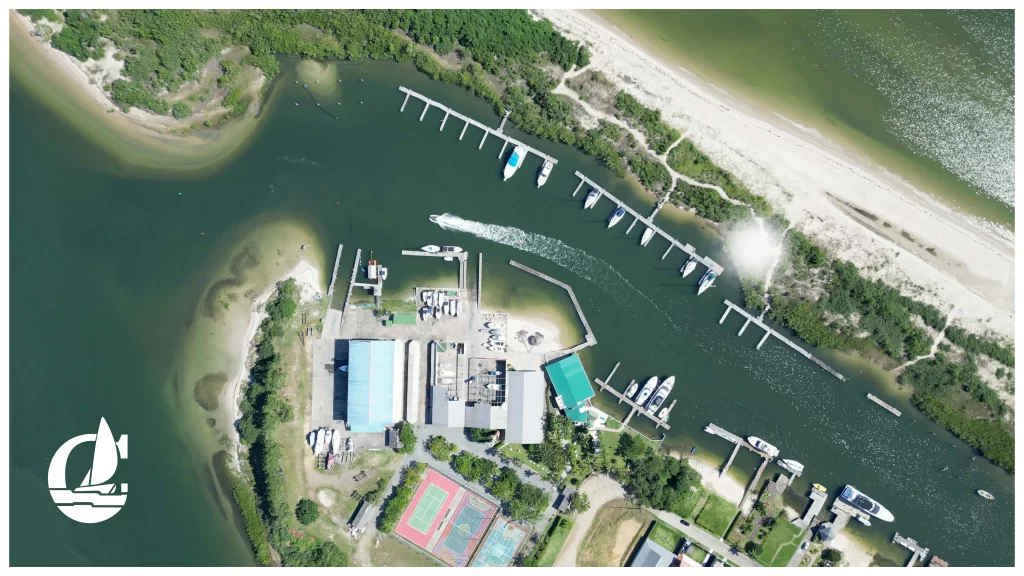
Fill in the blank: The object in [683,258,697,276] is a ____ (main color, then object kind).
white boat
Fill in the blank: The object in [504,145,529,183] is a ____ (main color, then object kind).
white boat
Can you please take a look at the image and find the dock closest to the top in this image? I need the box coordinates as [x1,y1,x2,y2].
[399,86,558,169]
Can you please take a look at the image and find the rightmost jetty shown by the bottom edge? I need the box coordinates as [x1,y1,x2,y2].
[891,532,929,573]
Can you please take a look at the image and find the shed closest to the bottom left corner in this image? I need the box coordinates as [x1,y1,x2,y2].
[349,501,374,531]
